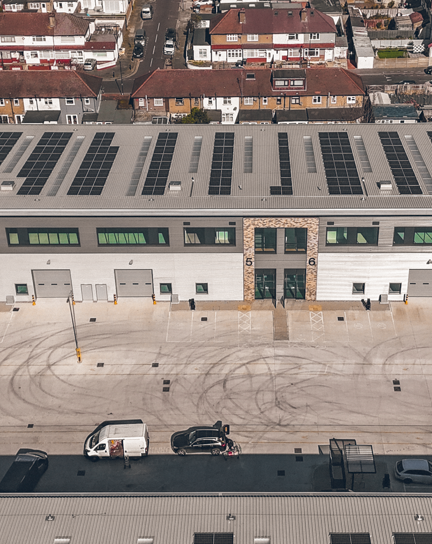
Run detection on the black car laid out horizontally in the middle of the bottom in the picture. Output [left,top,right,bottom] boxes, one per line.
[176,428,239,458]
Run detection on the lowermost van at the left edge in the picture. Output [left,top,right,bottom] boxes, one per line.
[0,448,57,494]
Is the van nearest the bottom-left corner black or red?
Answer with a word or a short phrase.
black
